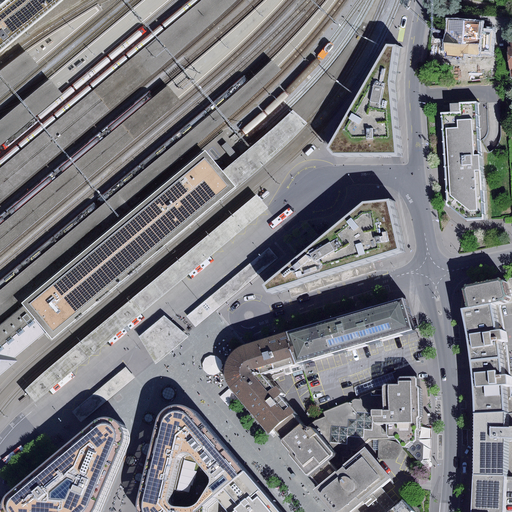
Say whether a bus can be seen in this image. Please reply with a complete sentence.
Yes, a bus is visible in the scene.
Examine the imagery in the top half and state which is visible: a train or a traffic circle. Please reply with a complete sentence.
Looking in the top half, you will find a train.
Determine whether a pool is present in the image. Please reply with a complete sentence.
No, this view has no pool in it.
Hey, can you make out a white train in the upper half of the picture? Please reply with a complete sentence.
Yes, you'll find a white train in the upper half of the picture.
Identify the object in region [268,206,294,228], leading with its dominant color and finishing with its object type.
white bus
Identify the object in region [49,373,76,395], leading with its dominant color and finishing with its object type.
white bus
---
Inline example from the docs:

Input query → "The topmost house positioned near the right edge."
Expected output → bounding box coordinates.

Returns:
[438,15,495,60]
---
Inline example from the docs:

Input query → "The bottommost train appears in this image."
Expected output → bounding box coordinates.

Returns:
[0,202,98,288]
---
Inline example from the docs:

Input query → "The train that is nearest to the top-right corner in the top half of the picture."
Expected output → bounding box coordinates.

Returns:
[286,60,322,96]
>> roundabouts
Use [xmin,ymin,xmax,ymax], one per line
[226,295,267,332]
